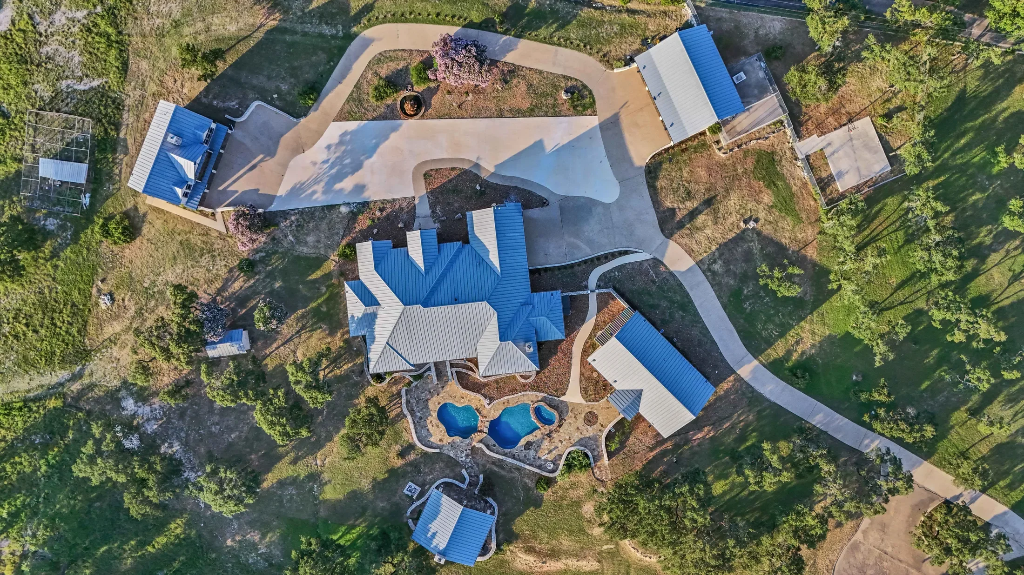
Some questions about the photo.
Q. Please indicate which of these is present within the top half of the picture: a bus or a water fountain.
water fountain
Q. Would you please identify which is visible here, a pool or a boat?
pool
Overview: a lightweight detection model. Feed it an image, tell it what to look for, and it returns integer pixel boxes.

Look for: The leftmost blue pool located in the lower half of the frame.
[435,400,482,441]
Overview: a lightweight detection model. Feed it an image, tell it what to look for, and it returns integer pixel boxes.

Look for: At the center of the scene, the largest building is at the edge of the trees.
[344,203,565,376]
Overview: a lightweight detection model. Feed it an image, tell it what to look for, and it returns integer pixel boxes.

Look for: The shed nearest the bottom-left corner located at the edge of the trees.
[203,329,252,358]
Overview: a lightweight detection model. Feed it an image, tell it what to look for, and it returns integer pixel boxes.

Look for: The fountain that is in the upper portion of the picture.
[397,90,424,119]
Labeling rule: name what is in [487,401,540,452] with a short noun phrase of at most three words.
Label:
swimming pool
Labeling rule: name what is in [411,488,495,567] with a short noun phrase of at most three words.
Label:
building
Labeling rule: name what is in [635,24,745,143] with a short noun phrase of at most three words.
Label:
building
